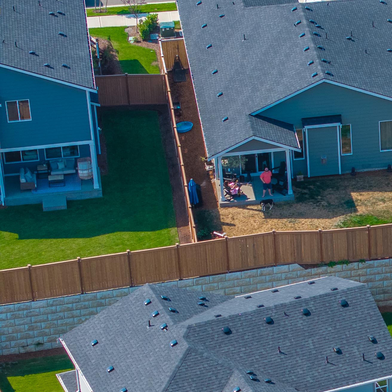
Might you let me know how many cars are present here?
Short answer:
none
